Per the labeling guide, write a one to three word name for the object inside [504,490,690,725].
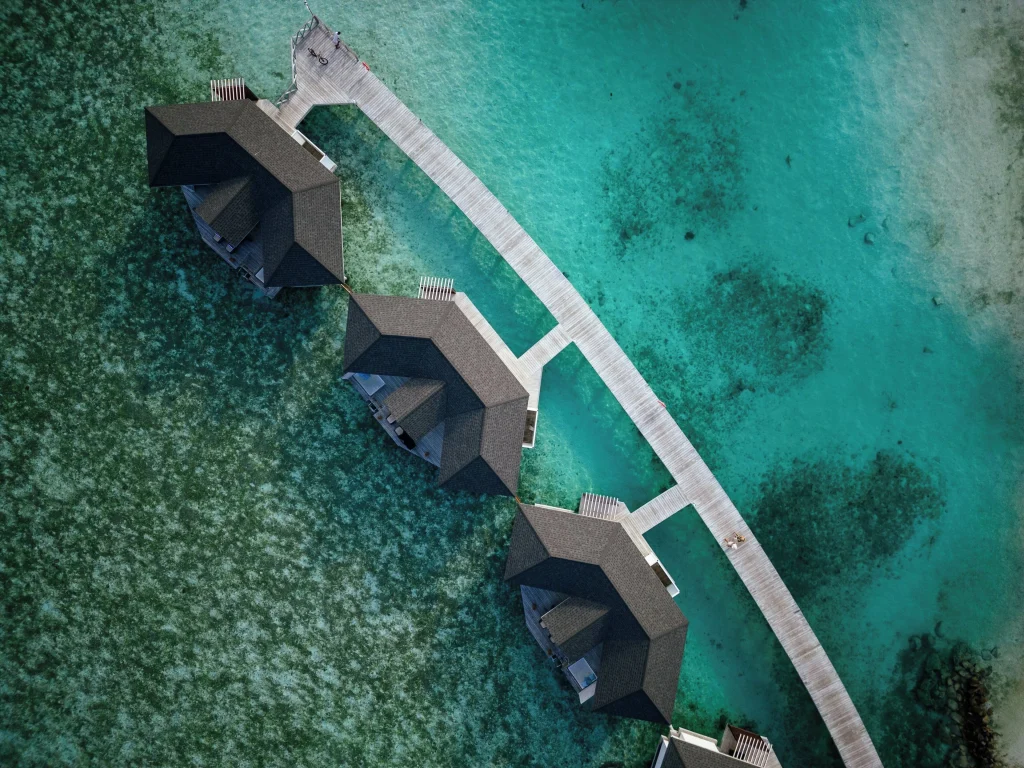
house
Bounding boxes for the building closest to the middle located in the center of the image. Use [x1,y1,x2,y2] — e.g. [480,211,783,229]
[340,275,541,498]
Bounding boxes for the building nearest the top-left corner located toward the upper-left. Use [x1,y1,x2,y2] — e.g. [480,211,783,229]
[144,80,346,301]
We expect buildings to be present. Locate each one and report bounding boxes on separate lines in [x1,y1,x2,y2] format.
[144,80,346,301]
[648,720,781,768]
[504,490,690,725]
[340,275,541,498]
